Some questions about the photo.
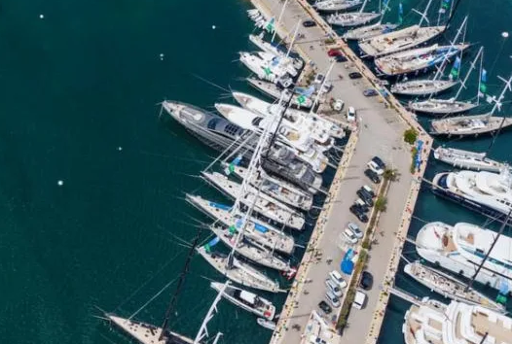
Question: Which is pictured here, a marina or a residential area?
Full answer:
What you see here is a marina.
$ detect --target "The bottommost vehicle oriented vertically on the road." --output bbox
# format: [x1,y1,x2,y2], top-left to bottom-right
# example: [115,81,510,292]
[352,288,367,312]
